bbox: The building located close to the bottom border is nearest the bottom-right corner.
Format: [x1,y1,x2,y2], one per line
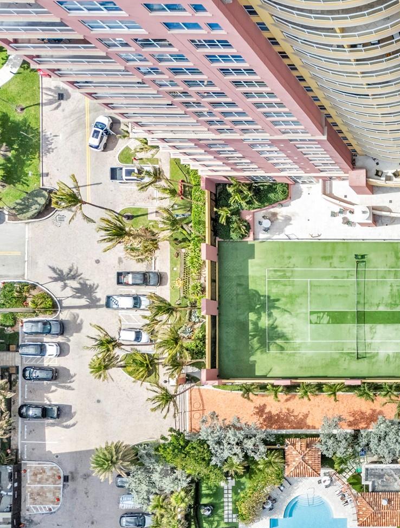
[358,491,400,528]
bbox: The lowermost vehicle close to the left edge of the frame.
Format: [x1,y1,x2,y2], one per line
[18,402,63,421]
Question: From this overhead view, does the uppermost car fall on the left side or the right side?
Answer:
left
